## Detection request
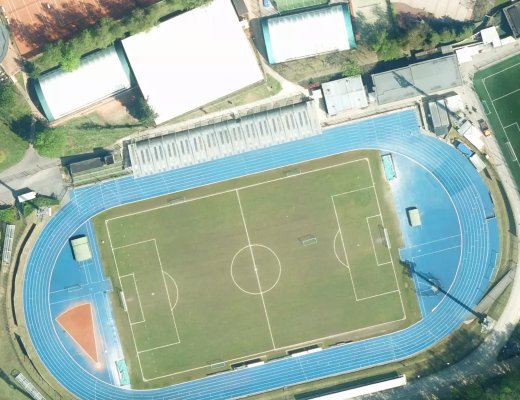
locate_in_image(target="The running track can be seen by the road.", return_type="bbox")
[20,103,499,400]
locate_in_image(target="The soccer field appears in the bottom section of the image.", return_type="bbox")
[91,148,422,389]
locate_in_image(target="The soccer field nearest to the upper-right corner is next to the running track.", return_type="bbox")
[473,54,520,191]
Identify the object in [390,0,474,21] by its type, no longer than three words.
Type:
sports court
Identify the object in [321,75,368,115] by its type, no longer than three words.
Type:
building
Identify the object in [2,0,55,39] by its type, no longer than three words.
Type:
tennis court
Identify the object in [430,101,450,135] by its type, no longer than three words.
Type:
building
